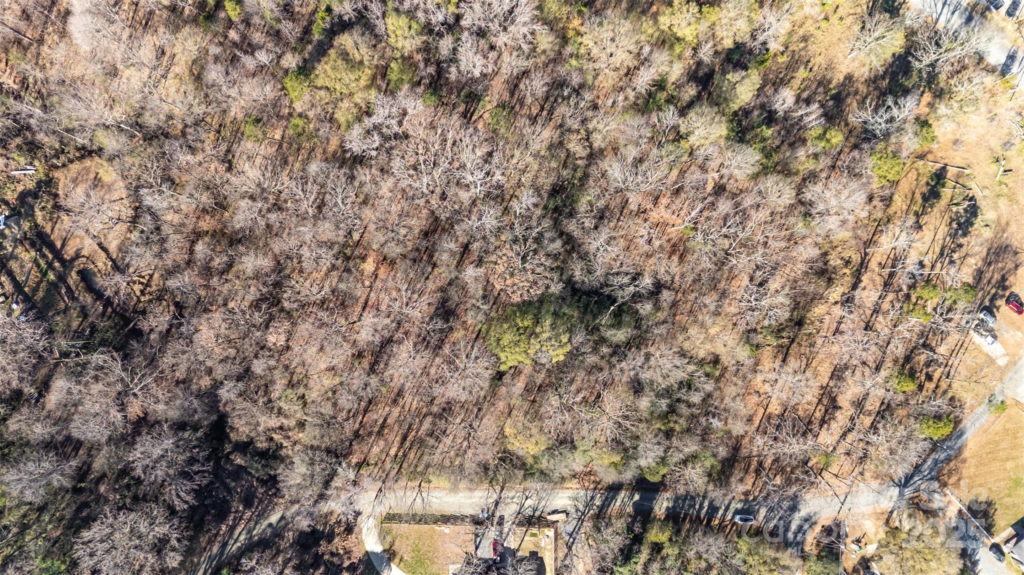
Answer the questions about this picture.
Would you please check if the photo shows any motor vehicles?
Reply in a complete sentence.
Yes, I can see a motor vehicle in this picture.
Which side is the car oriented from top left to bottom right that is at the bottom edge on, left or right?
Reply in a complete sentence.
You can find the car oriented from top left to bottom right that is at the bottom edge on the right side of the picture.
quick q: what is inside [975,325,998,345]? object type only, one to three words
vehicle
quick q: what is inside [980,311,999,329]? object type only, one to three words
car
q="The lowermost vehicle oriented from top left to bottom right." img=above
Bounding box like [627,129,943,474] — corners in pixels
[991,545,1011,565]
